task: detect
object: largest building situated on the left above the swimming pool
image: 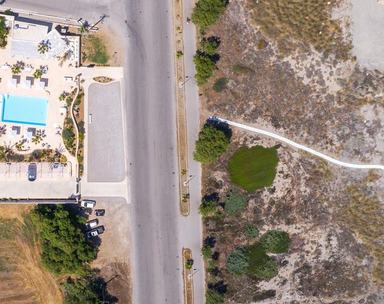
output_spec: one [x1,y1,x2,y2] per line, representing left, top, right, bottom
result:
[11,19,71,59]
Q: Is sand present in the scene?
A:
Yes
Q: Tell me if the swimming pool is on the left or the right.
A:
left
